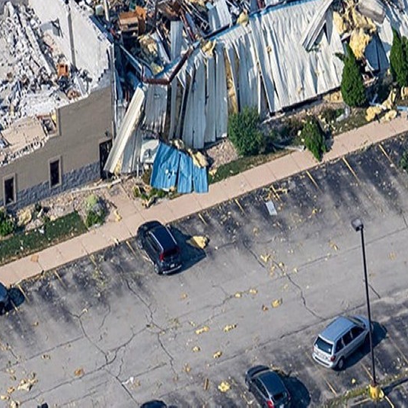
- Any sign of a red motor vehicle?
No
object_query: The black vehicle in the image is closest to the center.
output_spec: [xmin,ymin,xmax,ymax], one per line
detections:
[137,218,183,277]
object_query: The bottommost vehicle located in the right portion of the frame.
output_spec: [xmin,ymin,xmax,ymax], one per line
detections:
[243,362,299,408]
